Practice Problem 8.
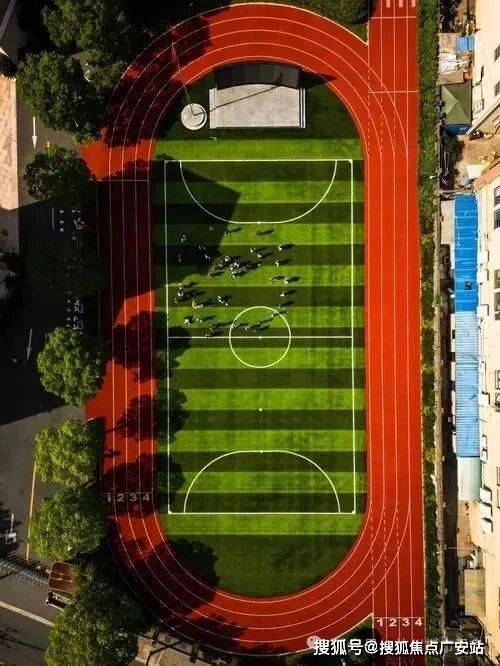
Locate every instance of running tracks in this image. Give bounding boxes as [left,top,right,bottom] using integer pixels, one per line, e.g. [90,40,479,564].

[81,0,426,666]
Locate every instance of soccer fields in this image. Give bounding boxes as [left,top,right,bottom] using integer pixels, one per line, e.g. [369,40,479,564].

[153,63,367,598]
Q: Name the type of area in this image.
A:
sports ground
